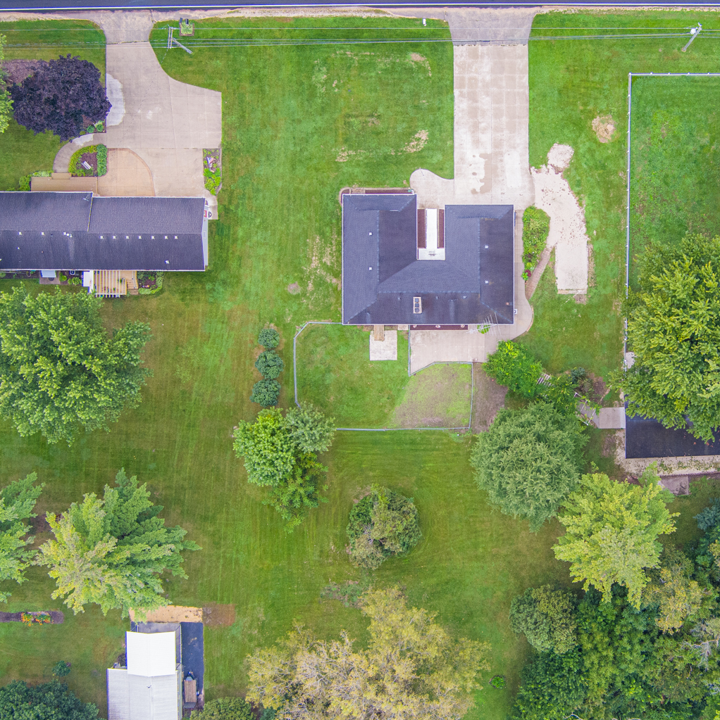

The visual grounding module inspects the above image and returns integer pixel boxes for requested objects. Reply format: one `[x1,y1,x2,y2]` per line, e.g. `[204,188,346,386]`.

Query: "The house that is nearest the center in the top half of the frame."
[342,194,515,325]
